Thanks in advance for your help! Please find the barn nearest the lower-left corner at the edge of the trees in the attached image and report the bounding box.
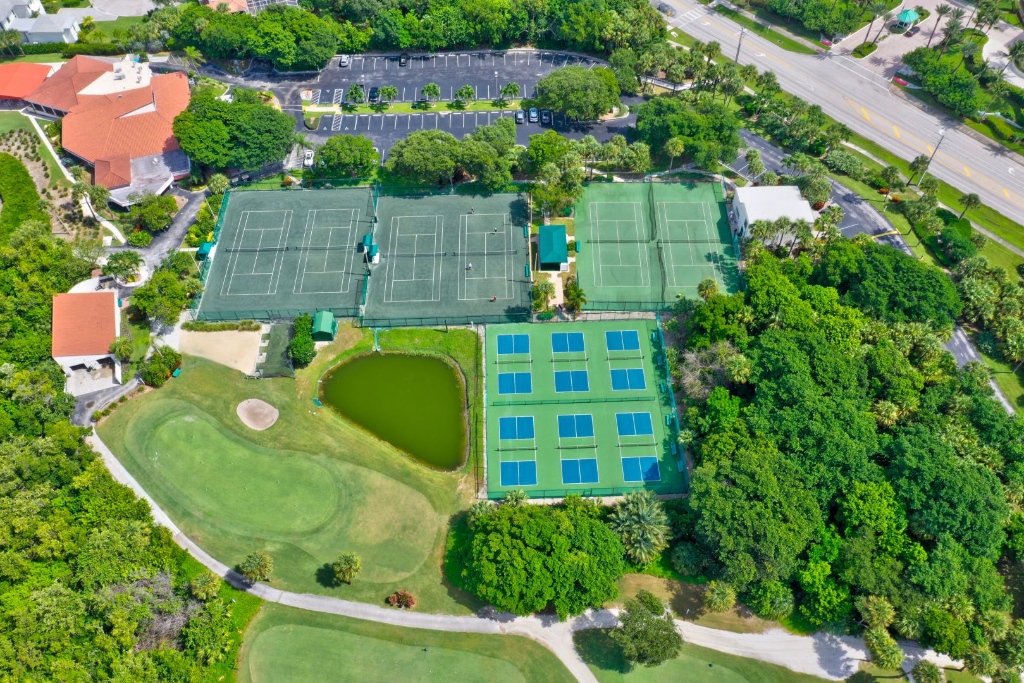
[52,292,123,393]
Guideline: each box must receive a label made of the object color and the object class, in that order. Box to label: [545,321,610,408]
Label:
green sports court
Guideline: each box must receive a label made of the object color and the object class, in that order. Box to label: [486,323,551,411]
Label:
green sports court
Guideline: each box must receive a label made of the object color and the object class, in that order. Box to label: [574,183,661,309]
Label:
green tennis court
